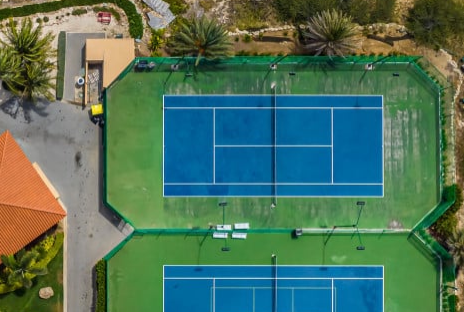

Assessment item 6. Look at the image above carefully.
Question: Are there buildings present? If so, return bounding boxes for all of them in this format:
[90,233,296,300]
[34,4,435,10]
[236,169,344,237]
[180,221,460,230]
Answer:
[0,131,67,263]
[84,38,135,94]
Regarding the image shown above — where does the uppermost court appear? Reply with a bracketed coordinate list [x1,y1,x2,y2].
[108,64,440,229]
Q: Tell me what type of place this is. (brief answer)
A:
sports ground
